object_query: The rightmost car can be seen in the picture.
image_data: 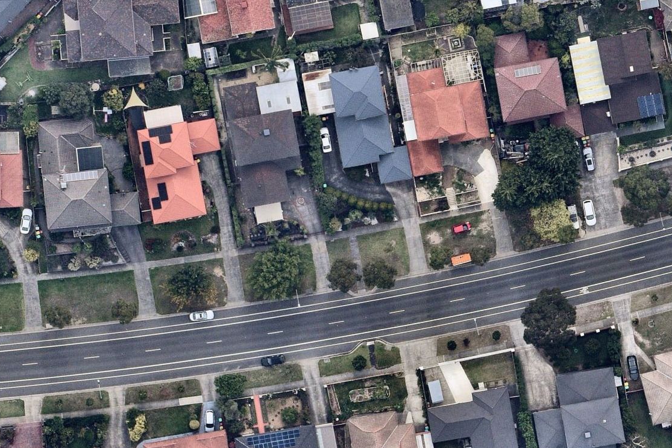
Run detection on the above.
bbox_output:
[627,355,639,379]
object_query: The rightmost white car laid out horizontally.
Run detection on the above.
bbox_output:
[189,309,215,322]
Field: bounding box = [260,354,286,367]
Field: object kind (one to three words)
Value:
vehicle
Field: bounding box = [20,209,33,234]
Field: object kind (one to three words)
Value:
vehicle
